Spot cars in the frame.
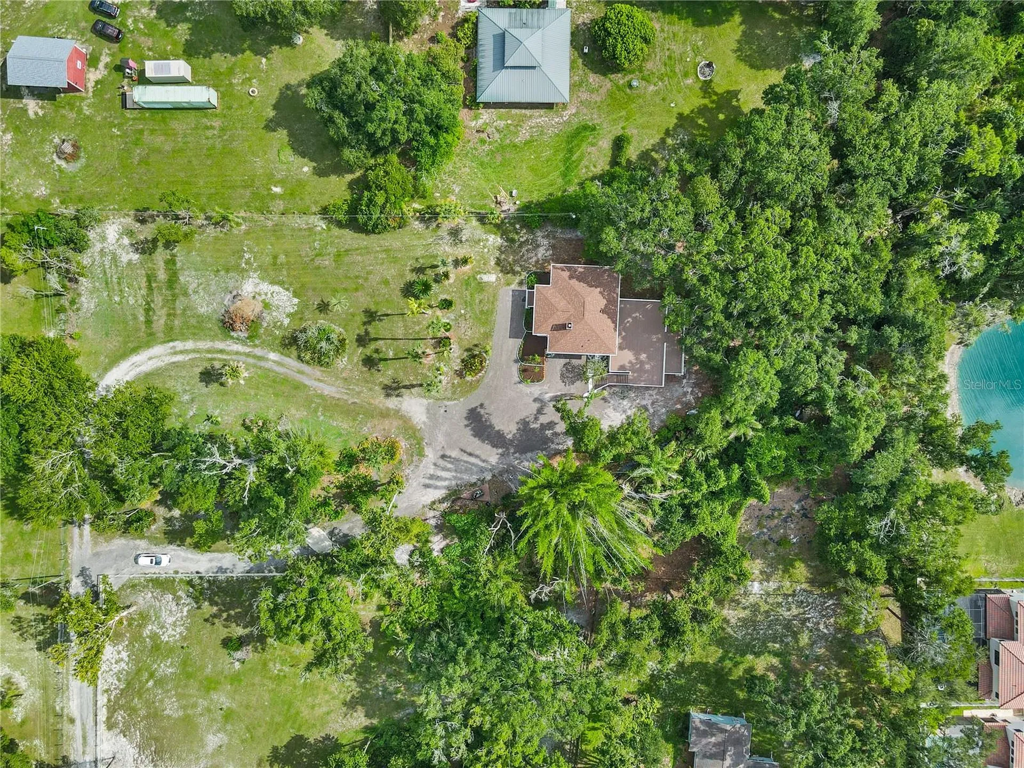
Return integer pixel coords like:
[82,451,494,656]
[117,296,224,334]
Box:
[92,21,127,44]
[89,0,123,20]
[135,552,172,567]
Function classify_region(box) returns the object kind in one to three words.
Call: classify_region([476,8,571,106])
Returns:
house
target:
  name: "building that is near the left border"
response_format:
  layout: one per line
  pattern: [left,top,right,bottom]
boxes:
[7,40,87,96]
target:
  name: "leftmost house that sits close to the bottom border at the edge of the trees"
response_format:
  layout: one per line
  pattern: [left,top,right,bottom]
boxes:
[684,708,778,768]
